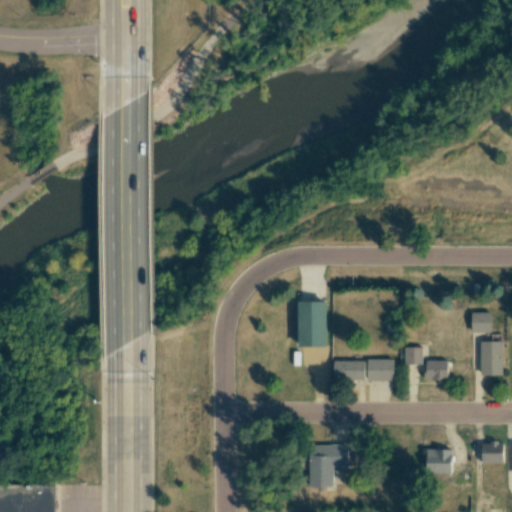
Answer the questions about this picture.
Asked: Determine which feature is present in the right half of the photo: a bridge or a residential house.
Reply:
residential house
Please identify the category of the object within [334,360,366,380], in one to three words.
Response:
house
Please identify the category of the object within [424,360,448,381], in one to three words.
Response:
house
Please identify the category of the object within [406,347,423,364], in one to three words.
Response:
building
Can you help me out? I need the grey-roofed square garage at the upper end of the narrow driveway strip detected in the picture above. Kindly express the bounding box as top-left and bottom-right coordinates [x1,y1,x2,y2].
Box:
[472,312,492,334]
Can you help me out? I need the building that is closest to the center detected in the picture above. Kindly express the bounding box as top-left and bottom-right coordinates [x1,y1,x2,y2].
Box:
[298,302,328,346]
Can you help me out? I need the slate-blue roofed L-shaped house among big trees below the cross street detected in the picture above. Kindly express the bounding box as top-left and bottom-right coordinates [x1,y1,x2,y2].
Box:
[310,444,342,488]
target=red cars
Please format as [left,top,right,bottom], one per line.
[486,402,500,408]
[131,8,138,24]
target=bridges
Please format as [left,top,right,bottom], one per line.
[98,82,158,362]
